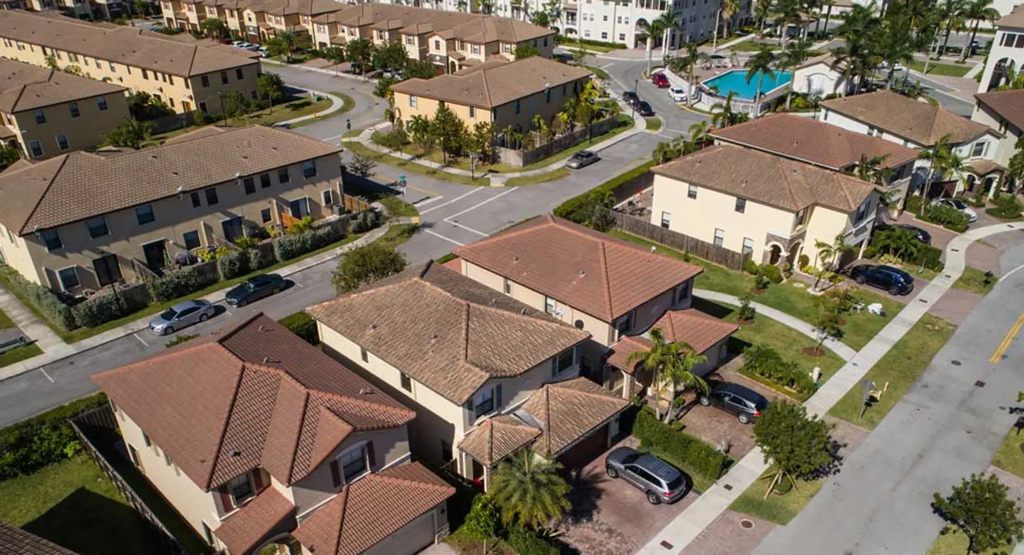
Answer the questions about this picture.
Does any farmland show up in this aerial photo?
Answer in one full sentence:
No, the scene doesn't show any farmland.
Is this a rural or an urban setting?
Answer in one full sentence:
It looks urban.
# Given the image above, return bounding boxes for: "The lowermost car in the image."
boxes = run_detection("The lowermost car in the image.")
[600,446,688,505]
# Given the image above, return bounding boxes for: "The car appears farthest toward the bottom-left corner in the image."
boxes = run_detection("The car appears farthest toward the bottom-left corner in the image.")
[145,299,214,335]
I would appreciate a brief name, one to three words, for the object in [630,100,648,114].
car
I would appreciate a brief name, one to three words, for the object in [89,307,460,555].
house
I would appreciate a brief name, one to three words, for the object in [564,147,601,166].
car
